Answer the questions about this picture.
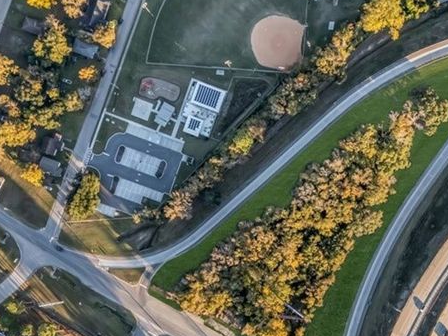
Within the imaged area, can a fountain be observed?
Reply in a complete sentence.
No, the scene contains no fountain.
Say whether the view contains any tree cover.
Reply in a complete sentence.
Yes, tree cover can be seen from above here.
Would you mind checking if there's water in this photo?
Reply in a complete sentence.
No, water can't be seen anywhere here.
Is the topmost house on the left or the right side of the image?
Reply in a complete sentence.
The topmost house is on the left side of the image.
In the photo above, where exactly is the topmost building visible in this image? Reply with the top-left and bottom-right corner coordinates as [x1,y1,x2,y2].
[89,0,111,24]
